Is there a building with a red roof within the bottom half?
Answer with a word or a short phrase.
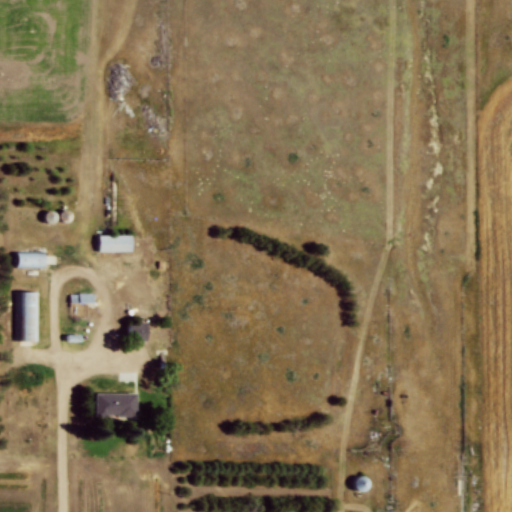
No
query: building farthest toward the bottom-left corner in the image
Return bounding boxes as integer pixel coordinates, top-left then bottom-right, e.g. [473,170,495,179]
[96,394,139,420]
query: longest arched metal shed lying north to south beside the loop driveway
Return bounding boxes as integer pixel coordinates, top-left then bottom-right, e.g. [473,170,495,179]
[21,291,39,342]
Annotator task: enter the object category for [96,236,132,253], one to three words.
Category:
shed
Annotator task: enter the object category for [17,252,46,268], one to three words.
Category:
shed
